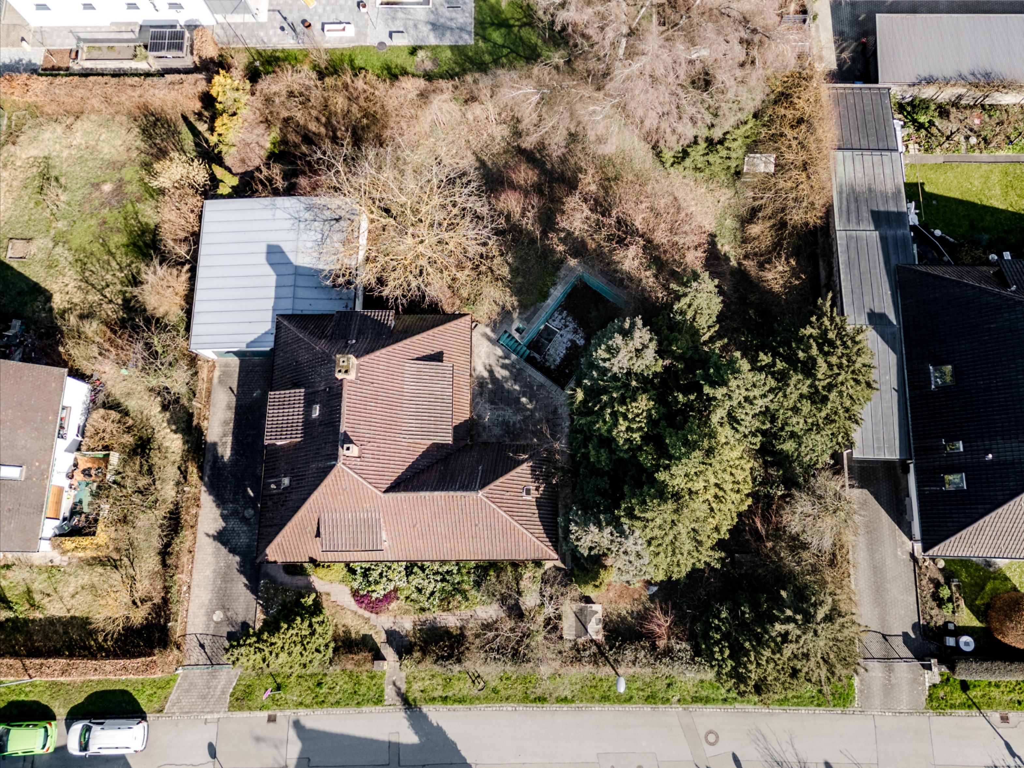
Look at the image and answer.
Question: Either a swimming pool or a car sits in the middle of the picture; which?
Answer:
swimming pool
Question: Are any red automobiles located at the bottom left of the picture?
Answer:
No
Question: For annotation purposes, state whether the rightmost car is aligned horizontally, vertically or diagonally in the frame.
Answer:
horizontally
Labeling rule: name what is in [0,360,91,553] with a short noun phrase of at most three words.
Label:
house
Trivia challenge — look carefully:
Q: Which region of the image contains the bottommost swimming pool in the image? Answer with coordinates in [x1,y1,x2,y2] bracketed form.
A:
[497,273,629,389]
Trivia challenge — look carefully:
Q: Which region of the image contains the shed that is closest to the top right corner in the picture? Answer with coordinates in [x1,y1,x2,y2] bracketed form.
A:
[855,11,1024,104]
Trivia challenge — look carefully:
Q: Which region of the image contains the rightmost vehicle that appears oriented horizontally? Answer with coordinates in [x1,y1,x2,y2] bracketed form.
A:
[71,715,154,758]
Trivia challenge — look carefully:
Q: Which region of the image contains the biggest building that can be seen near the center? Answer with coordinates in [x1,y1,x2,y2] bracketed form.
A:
[256,308,562,564]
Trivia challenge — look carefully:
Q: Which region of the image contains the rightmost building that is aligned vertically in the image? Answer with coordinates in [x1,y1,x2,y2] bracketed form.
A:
[892,262,1024,560]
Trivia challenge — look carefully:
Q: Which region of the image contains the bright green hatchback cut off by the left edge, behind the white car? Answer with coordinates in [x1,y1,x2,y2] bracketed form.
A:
[0,717,62,757]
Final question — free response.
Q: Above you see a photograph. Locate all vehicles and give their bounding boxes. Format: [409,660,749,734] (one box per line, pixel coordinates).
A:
[0,717,62,757]
[71,715,154,758]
